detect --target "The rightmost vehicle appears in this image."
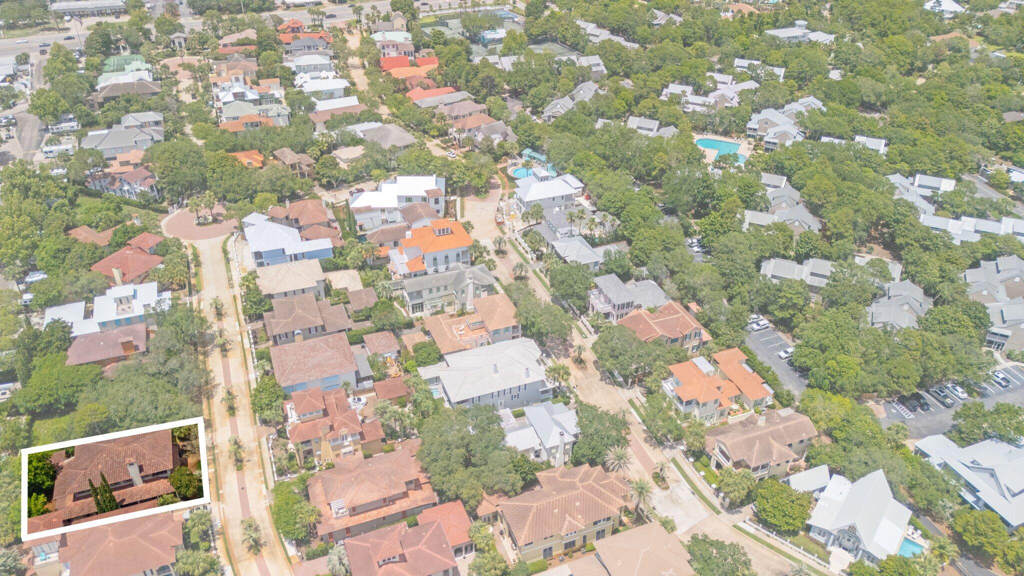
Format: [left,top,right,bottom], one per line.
[988,369,1016,388]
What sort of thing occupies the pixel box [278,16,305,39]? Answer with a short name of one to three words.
house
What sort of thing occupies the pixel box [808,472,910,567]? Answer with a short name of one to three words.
building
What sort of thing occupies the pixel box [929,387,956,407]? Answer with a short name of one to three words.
vehicle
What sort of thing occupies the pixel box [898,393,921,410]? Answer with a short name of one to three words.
car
